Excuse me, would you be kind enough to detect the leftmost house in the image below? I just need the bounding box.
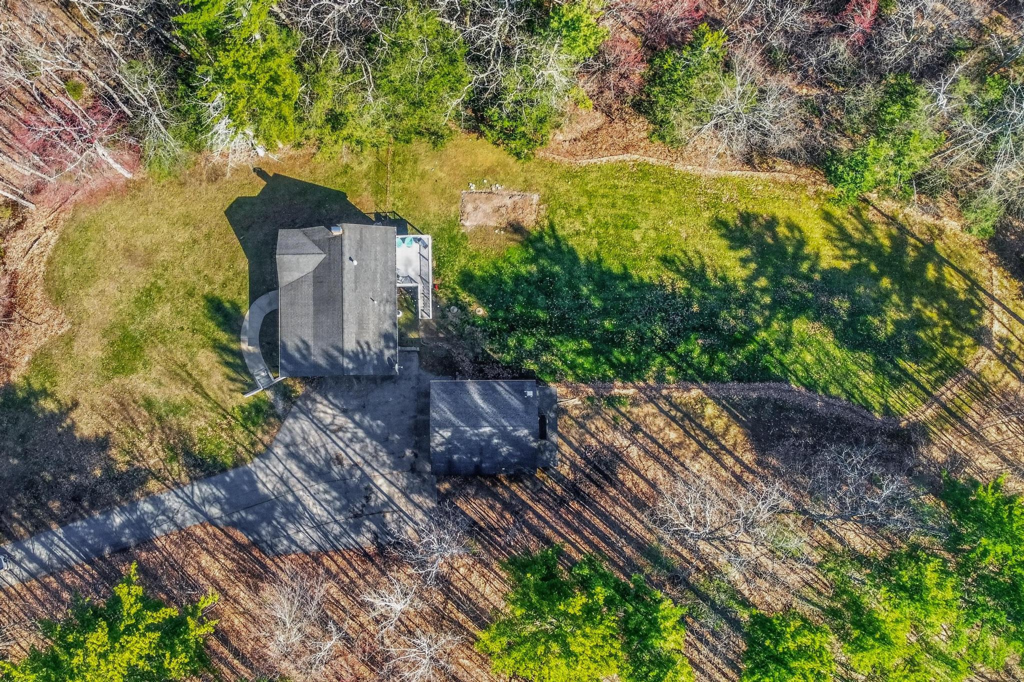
[271,220,399,378]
